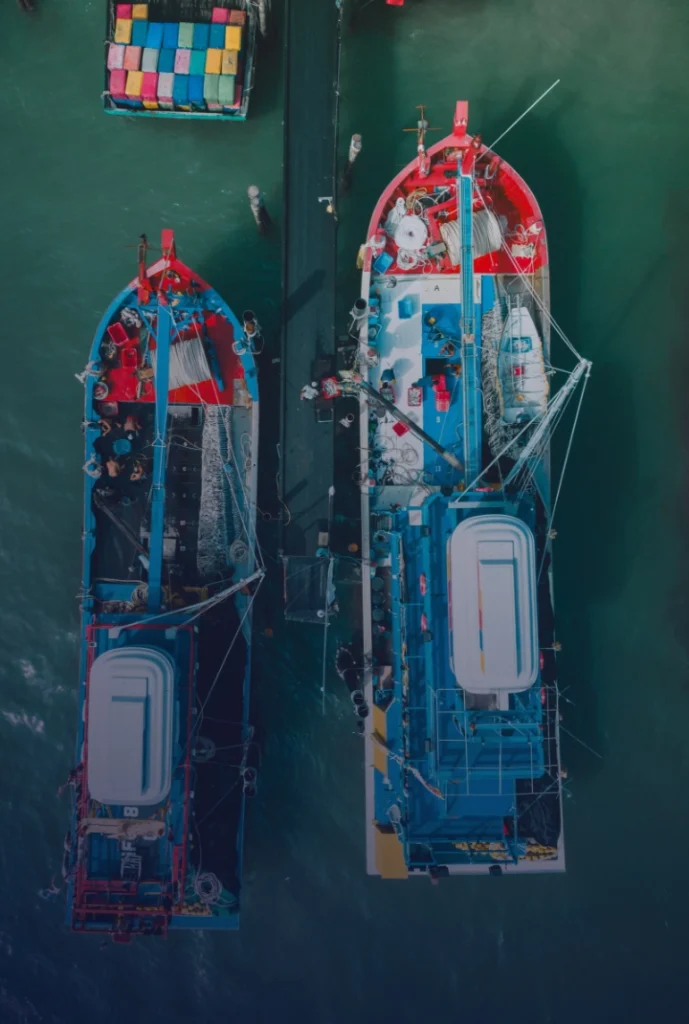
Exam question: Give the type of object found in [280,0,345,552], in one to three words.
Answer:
pier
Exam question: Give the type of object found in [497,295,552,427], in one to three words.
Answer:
boat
